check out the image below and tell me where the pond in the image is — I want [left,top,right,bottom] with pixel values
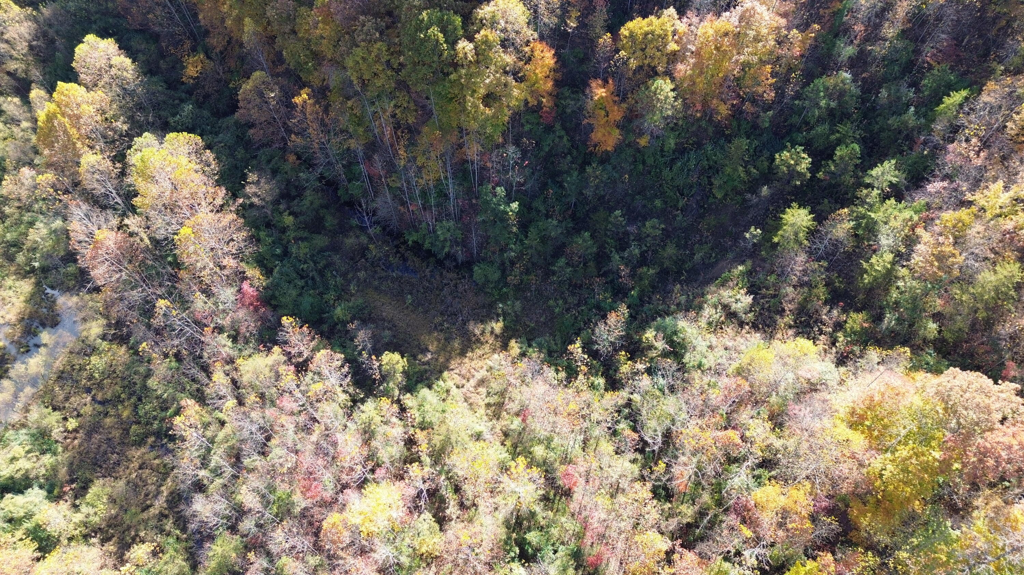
[0,284,87,438]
